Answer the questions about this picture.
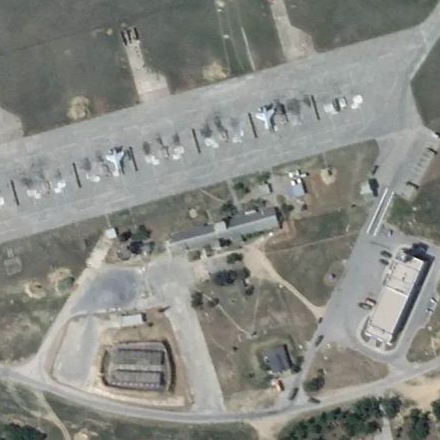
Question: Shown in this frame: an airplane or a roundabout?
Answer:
airplane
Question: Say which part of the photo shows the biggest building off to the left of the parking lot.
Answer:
center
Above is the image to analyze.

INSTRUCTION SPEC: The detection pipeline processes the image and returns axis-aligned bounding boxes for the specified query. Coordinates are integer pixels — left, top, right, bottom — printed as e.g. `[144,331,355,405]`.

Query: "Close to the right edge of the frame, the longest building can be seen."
[367,249,424,340]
